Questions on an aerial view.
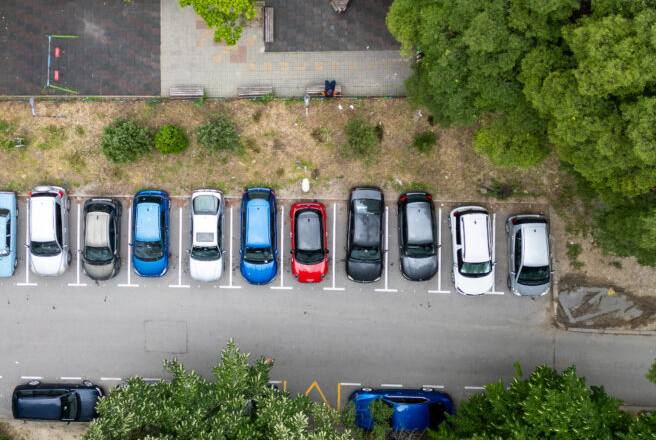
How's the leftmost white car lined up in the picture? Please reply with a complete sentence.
The leftmost white car has been laid out up and down relative to the frame.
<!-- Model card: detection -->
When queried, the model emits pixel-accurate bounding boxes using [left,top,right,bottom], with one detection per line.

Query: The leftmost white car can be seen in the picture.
[25,186,71,276]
